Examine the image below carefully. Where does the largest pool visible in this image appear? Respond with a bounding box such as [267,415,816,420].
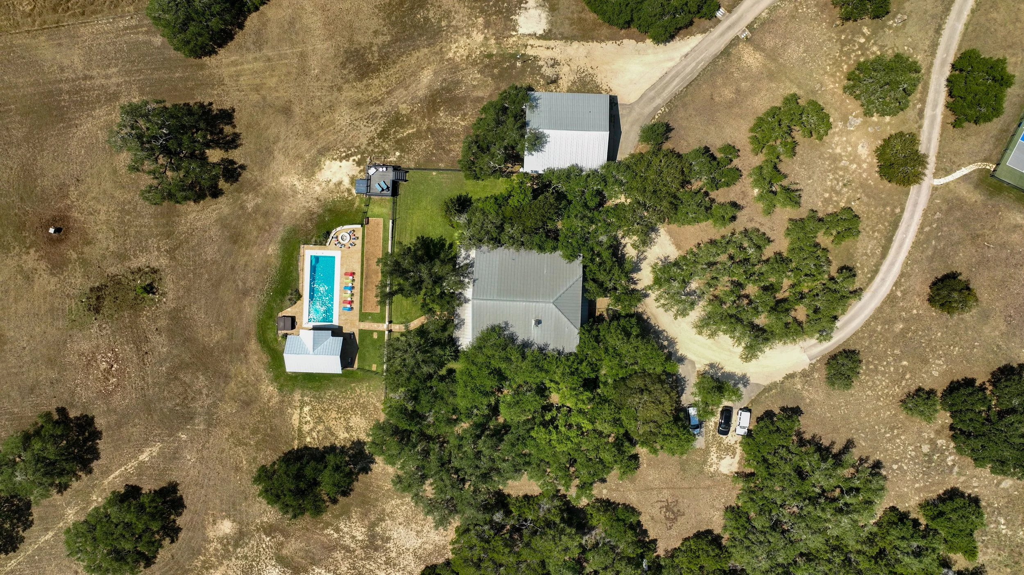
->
[303,250,341,327]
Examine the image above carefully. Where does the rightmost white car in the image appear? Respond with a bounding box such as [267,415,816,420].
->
[735,406,751,435]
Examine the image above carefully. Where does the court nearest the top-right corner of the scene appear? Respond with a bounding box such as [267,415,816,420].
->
[995,118,1024,190]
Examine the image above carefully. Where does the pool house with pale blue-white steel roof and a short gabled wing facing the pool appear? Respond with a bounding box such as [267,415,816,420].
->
[283,329,345,374]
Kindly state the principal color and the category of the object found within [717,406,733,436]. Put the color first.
black car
